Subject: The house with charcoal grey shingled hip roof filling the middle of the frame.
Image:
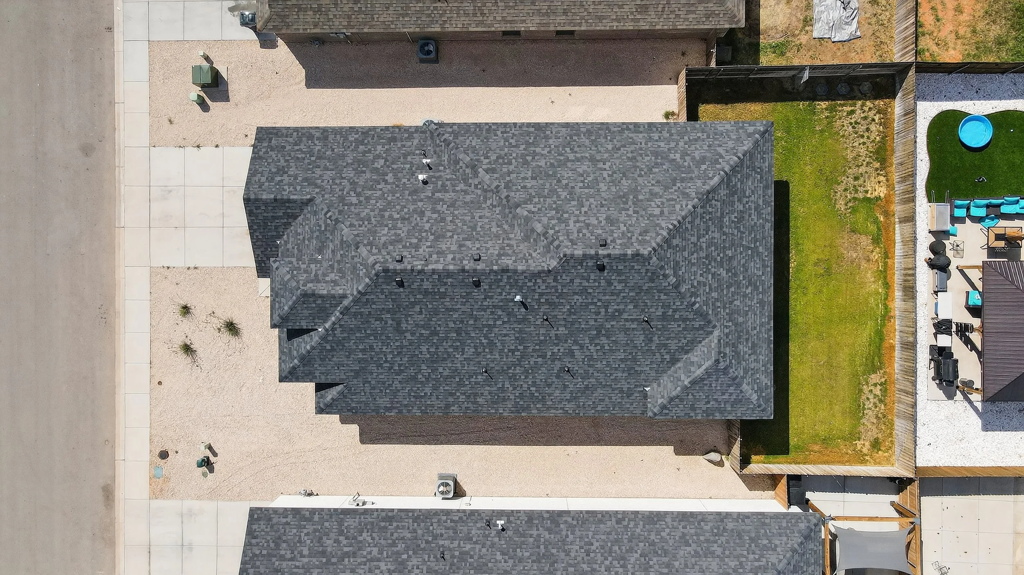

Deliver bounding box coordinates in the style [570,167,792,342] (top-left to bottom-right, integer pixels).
[243,120,774,420]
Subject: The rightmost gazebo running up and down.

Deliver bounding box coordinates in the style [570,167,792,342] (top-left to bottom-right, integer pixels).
[956,260,1024,402]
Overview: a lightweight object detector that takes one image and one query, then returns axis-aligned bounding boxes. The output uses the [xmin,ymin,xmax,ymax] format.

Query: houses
[257,0,745,41]
[243,120,774,420]
[238,496,822,575]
